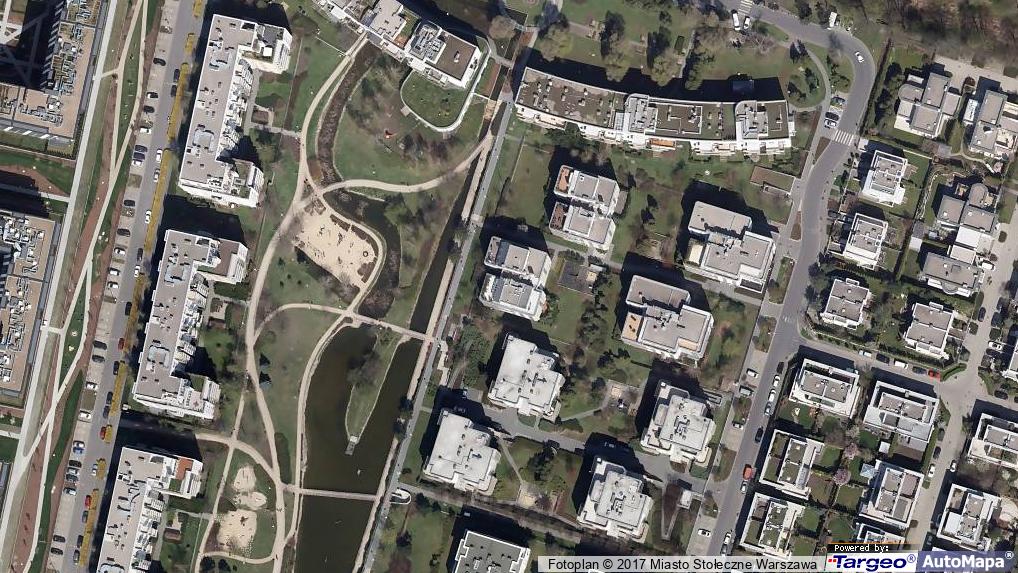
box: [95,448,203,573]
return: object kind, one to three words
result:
building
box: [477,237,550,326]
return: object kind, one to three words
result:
house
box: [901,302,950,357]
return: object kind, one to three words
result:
house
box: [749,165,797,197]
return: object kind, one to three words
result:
building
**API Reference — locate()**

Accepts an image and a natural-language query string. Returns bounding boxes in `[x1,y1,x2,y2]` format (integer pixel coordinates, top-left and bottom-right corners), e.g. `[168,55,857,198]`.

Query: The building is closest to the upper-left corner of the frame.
[0,0,113,151]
